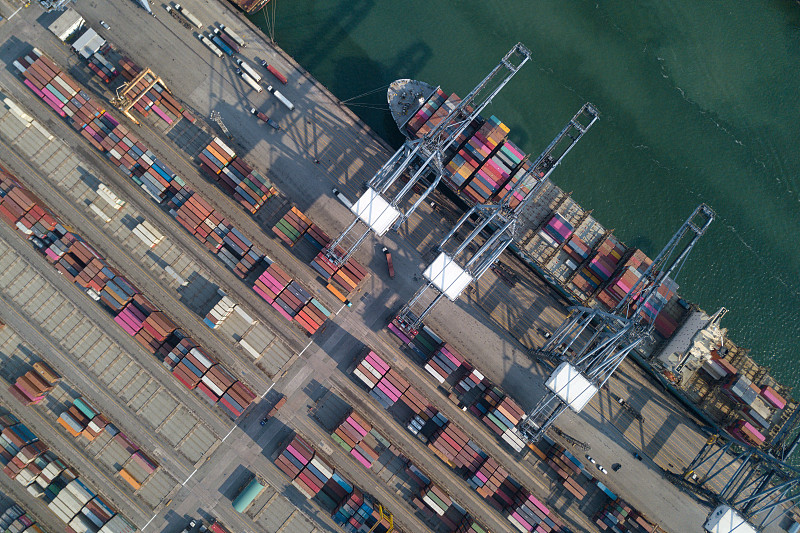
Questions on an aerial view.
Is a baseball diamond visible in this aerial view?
No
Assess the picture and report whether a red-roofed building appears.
No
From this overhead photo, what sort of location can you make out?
port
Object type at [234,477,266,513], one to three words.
shed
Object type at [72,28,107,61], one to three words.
shed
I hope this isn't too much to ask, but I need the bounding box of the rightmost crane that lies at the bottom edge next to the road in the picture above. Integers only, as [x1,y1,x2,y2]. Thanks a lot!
[652,405,800,533]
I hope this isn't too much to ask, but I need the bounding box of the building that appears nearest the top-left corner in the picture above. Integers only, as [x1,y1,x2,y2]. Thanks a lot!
[48,6,87,42]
